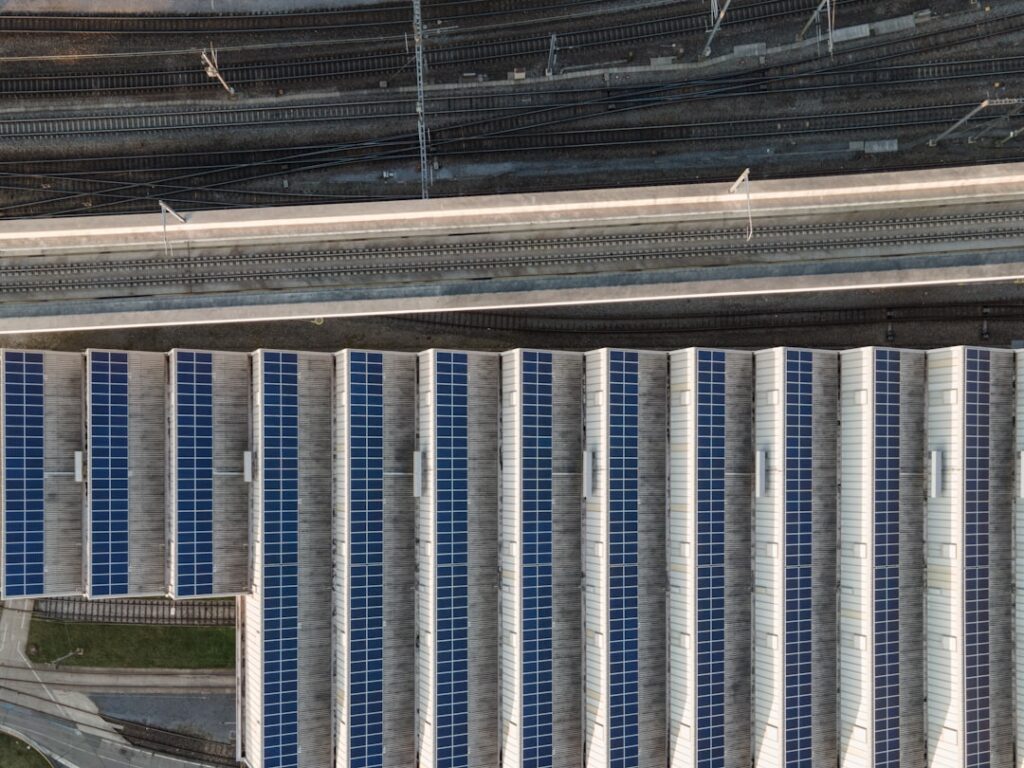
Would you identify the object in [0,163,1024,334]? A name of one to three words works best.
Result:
bridge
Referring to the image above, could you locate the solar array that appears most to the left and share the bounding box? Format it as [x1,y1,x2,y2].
[5,352,77,598]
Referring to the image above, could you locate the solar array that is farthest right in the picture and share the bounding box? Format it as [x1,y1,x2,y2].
[965,349,990,768]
